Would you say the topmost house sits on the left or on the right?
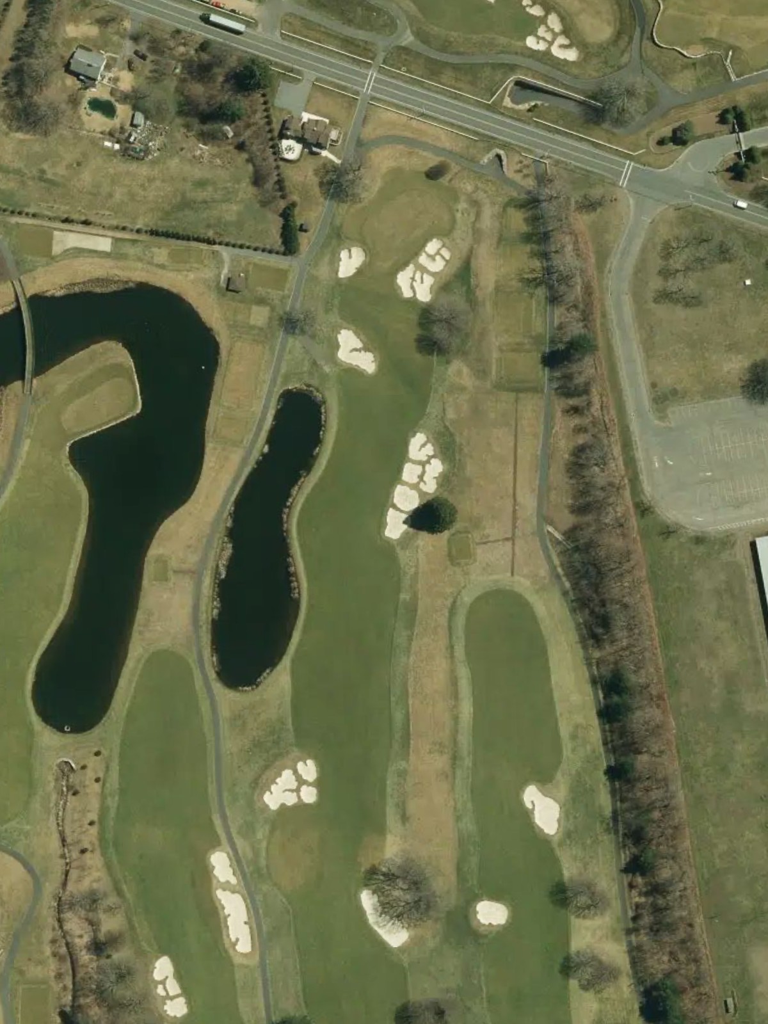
left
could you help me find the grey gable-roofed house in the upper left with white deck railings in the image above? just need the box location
[69,47,107,88]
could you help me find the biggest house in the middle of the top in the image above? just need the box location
[282,113,331,147]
